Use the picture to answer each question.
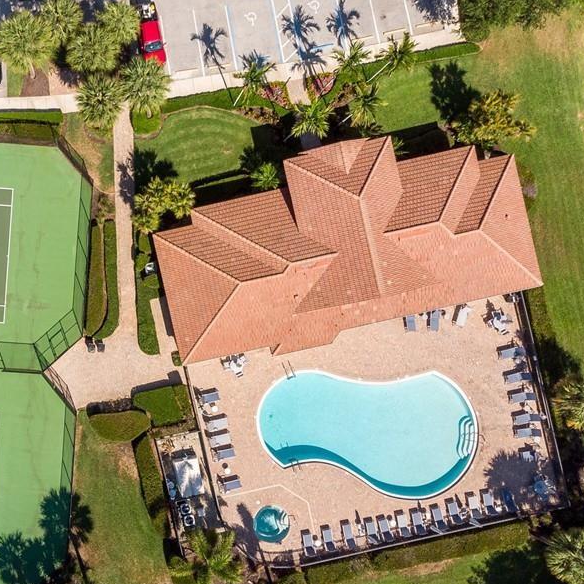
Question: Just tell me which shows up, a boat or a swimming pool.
swimming pool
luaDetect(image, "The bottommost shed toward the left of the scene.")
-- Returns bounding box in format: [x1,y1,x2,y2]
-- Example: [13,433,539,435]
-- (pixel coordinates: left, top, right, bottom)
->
[168,449,205,496]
